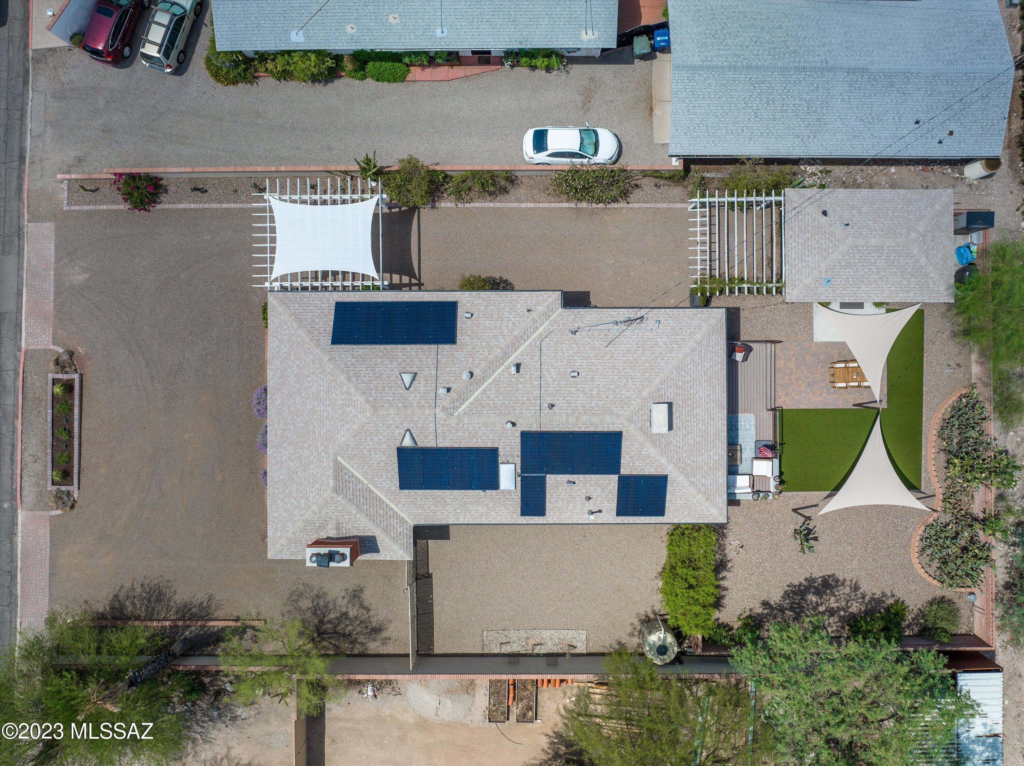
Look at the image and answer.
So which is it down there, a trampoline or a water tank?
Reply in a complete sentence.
This aerial view contains a water tank.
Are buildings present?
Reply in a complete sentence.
Yes, there's a building down there.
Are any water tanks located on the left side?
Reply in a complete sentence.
No, the scene shows no water tank on the left side.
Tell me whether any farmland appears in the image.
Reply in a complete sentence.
No, there's no farmland in this view.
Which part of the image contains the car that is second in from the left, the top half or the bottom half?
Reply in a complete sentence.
You can find the car that is second in from the left in the top half.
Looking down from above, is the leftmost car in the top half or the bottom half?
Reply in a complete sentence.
You can find the leftmost car in the top half.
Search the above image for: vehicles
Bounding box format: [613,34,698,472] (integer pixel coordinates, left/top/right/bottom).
[137,0,205,78]
[522,119,618,166]
[80,0,153,69]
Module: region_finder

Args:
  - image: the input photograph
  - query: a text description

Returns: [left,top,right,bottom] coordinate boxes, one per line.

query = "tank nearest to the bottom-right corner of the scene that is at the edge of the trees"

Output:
[636,614,677,663]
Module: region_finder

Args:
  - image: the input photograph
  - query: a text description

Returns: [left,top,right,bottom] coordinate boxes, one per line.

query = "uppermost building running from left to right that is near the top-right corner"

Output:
[667,0,1014,171]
